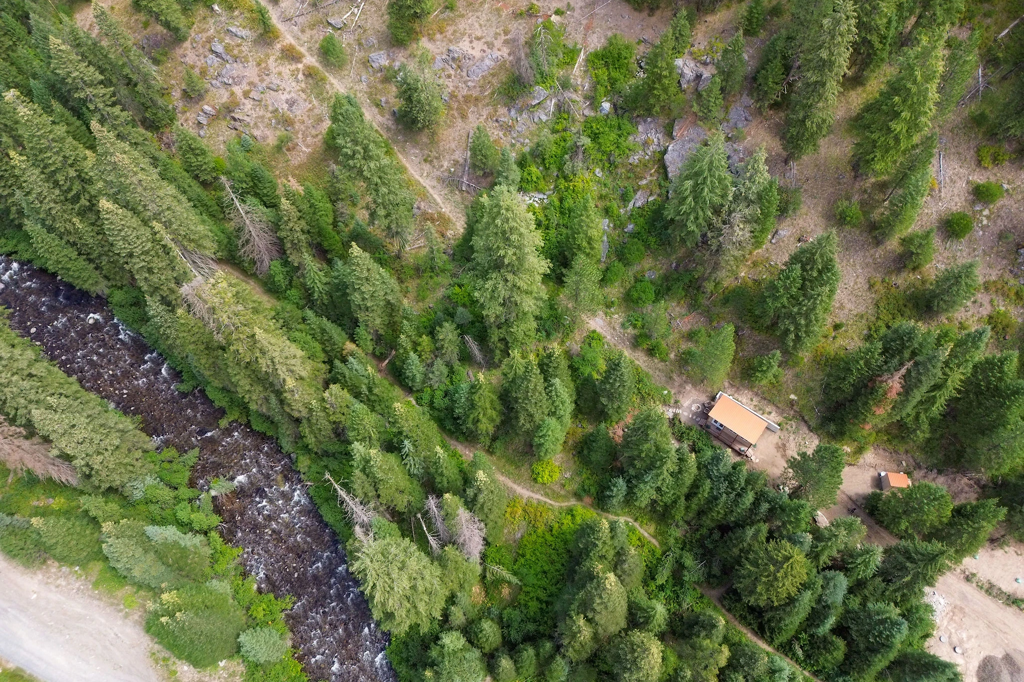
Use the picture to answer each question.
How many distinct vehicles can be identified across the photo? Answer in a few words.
0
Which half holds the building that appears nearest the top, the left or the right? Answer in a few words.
right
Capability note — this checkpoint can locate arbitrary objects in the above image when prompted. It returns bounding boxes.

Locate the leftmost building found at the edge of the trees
[698,395,767,460]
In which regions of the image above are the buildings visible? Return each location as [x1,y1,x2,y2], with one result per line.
[698,395,767,460]
[878,470,907,491]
